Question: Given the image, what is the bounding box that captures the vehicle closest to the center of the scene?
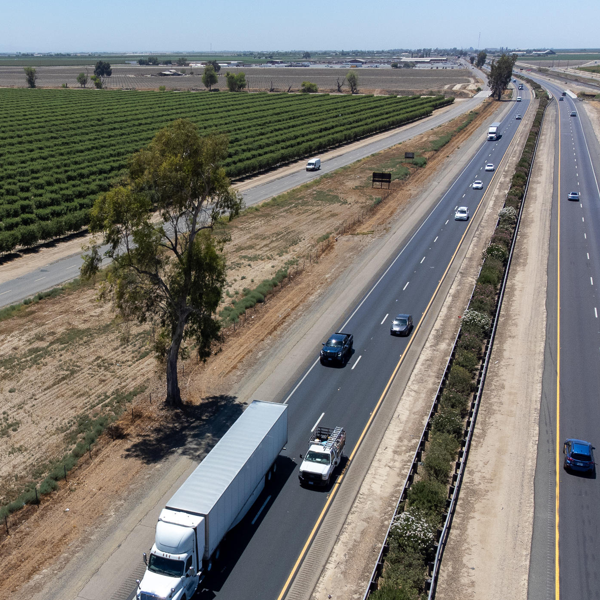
[320,333,357,365]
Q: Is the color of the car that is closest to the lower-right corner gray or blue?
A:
blue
